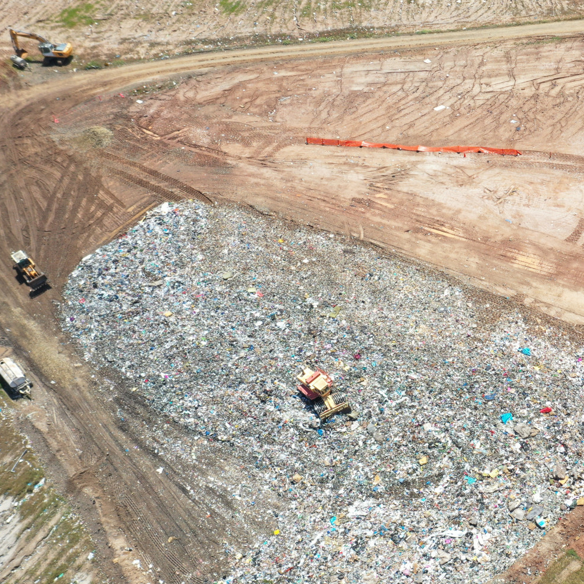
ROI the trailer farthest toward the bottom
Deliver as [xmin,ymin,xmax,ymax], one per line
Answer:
[0,358,33,401]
